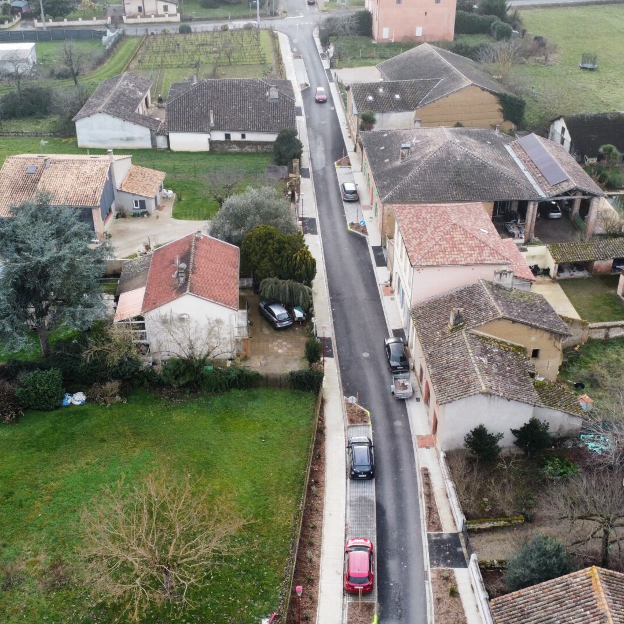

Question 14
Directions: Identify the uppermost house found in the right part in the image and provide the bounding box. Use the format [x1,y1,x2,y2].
[367,0,458,42]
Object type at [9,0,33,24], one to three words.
shed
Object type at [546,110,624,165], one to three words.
barn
